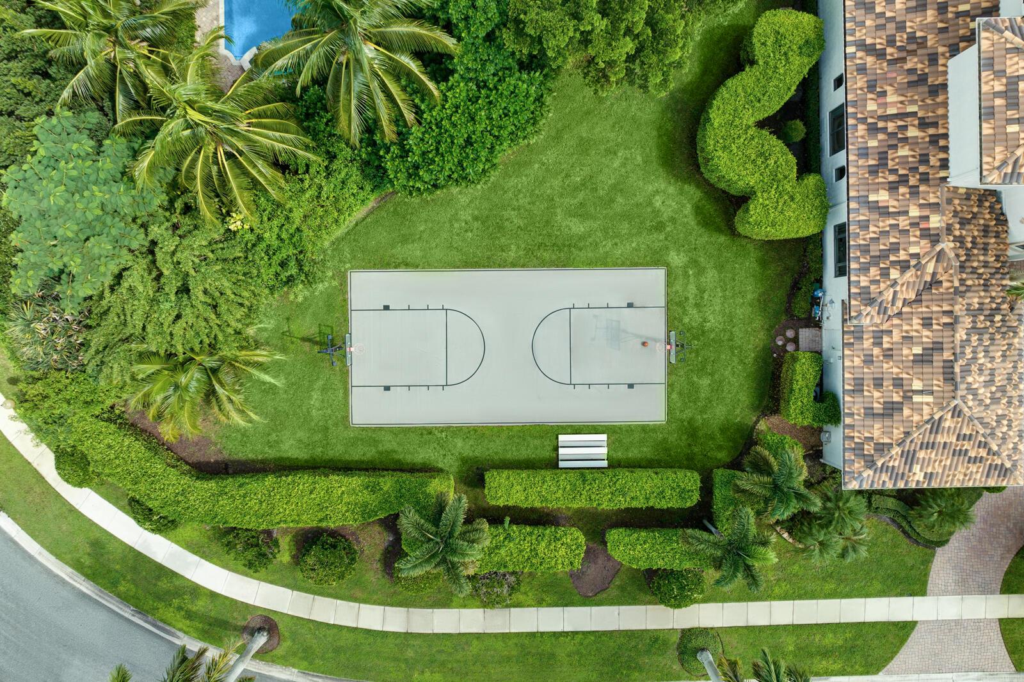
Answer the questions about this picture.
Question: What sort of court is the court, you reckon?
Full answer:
From above, the court can be identified as a basketball court.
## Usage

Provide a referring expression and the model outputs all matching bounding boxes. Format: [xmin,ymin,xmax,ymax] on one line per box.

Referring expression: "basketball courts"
[348,267,667,427]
